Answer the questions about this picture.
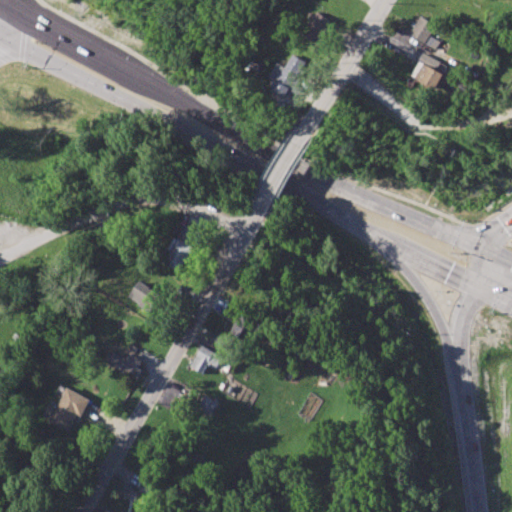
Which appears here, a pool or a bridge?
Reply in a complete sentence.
There is a bridge in the scene.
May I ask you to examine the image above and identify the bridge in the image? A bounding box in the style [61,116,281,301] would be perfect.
[250,118,316,210]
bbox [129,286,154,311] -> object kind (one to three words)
house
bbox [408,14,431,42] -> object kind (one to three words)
barn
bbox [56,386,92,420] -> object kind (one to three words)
house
